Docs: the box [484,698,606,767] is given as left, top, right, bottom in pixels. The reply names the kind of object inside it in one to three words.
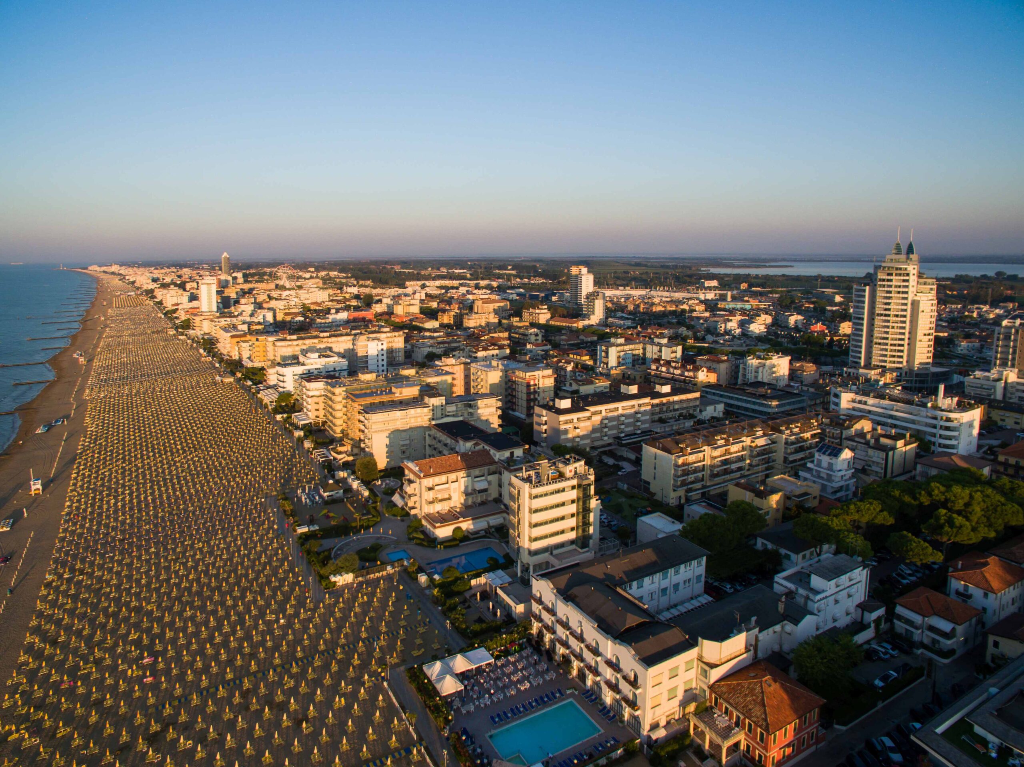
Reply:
swimming pool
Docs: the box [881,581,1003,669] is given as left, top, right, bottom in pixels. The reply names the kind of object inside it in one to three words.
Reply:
house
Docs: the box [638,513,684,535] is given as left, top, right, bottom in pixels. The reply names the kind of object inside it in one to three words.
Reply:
building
